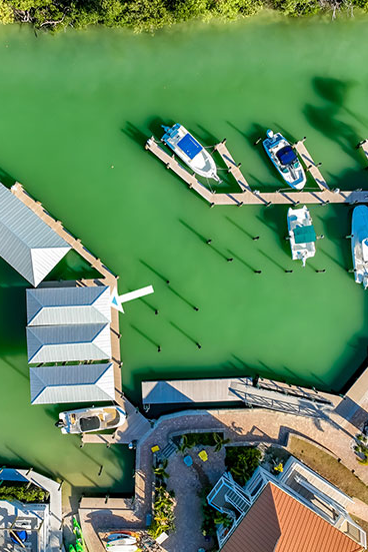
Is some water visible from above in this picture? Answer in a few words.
Yes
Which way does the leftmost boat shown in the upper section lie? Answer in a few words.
at an angle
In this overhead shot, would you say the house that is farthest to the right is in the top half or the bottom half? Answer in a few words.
bottom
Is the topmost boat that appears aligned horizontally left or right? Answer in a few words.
left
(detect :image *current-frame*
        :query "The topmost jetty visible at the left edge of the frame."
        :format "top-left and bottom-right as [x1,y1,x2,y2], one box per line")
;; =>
[10,181,125,400]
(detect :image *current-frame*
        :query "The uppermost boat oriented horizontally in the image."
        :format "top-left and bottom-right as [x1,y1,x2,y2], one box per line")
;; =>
[52,403,126,434]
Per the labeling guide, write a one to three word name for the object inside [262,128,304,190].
boat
